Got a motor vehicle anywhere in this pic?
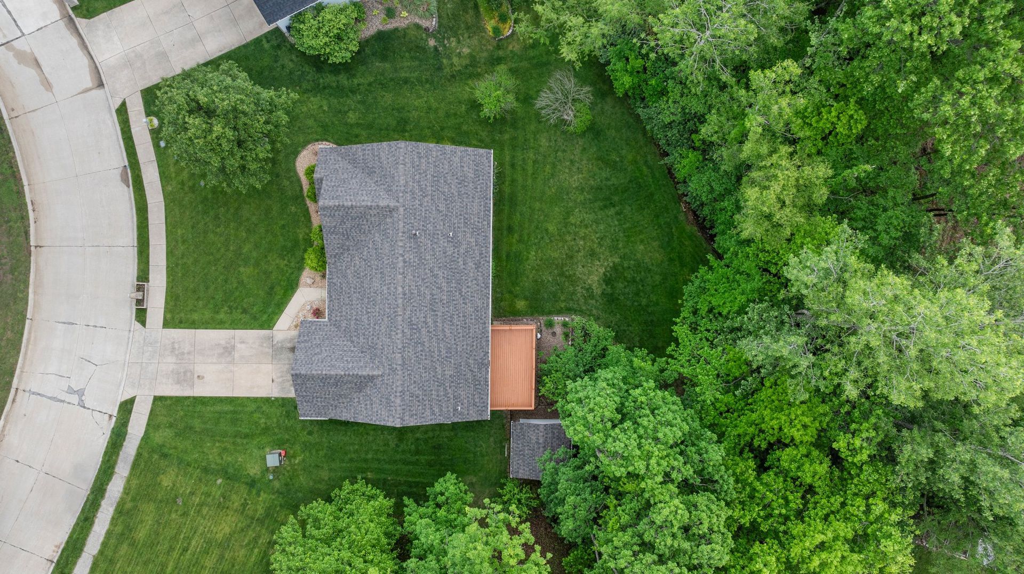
No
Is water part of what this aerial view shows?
No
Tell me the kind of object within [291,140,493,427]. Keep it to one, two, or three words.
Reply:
house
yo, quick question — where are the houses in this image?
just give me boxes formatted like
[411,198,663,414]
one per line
[291,140,493,427]
[255,0,349,37]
